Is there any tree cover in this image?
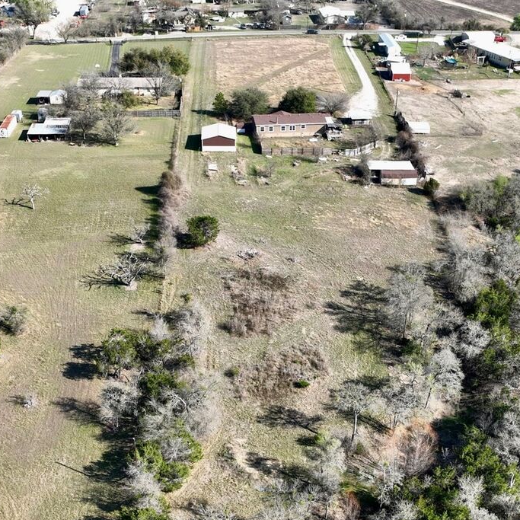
Yes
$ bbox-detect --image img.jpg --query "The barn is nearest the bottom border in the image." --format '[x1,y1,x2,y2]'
[366,159,419,184]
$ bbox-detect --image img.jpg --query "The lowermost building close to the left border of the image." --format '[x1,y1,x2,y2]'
[25,111,69,140]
